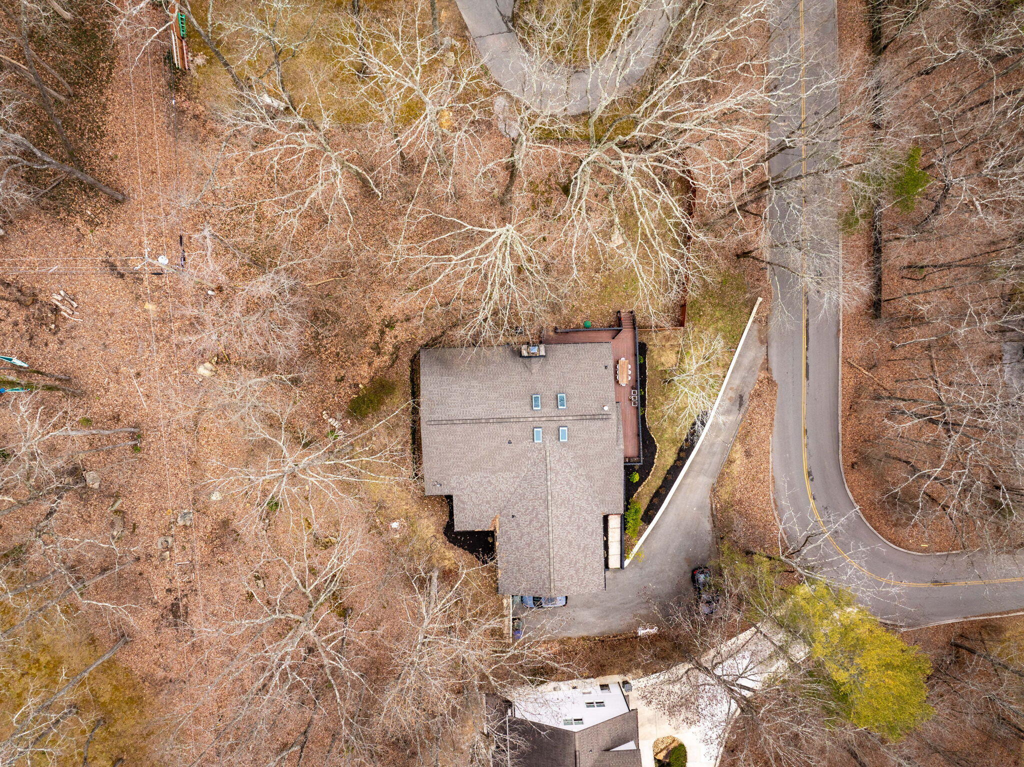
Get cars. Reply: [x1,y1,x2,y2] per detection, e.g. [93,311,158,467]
[523,595,568,608]
[690,564,719,614]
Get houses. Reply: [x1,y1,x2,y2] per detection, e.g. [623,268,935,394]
[419,341,624,598]
[485,680,646,767]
